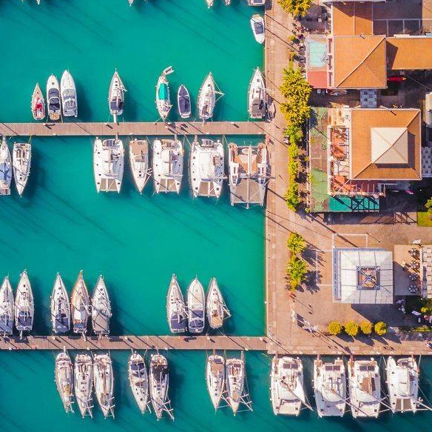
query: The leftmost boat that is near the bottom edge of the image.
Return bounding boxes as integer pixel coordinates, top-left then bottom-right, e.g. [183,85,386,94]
[51,347,75,414]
